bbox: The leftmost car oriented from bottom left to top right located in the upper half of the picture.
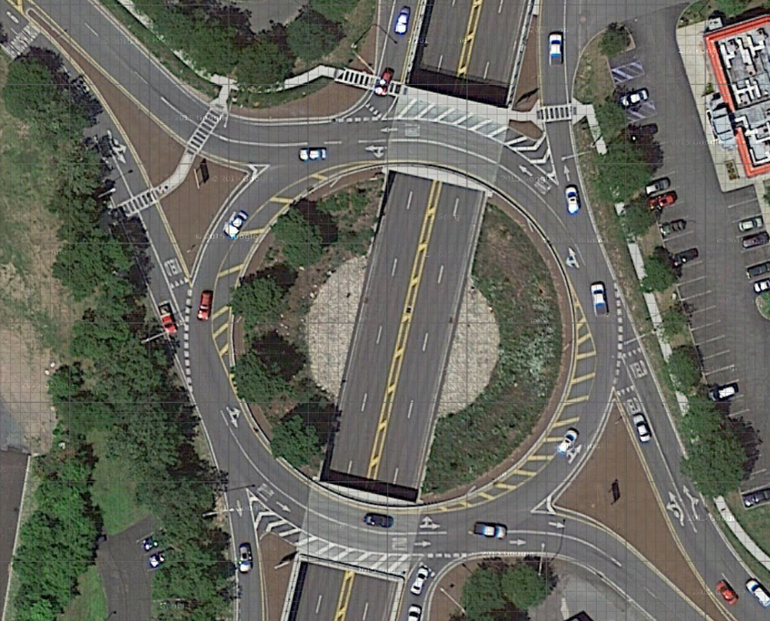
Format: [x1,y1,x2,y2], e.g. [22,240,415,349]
[225,208,249,237]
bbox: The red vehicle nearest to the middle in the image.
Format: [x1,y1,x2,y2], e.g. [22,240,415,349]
[198,290,212,320]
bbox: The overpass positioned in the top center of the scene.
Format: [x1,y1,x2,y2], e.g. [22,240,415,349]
[386,83,513,192]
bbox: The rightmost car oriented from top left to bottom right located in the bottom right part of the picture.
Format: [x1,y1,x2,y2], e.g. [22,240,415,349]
[747,577,770,607]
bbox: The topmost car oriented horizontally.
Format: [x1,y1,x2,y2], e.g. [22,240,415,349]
[620,89,650,105]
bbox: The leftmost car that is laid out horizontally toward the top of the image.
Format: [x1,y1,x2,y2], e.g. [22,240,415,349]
[299,147,326,160]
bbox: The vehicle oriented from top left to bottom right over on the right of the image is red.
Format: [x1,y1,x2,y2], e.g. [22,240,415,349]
[716,579,738,606]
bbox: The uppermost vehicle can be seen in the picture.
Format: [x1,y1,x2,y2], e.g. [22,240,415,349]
[394,6,409,35]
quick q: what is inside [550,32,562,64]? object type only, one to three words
vehicle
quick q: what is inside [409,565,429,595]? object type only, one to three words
car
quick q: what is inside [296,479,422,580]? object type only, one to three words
overpass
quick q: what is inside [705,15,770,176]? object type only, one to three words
building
